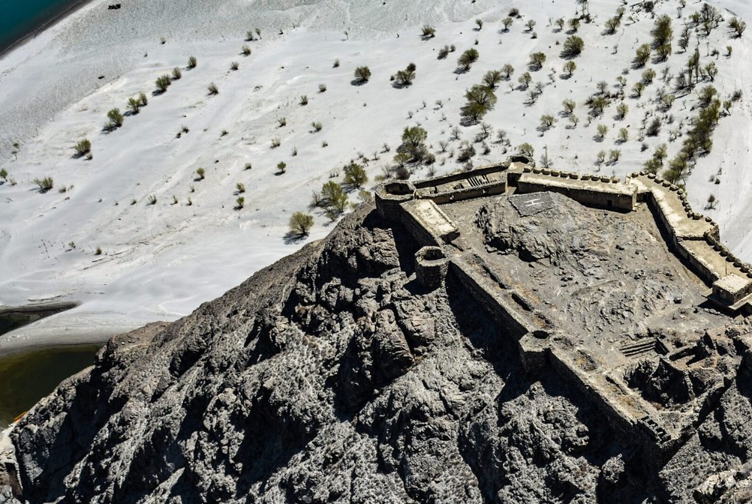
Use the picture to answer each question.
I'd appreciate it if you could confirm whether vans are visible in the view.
No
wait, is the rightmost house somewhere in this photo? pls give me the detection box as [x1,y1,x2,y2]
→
[702,272,752,312]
